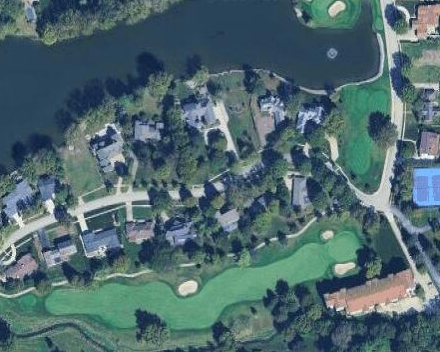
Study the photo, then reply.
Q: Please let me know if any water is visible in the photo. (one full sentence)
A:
Yes, some water is visible.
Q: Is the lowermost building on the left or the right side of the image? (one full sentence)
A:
It is on the right.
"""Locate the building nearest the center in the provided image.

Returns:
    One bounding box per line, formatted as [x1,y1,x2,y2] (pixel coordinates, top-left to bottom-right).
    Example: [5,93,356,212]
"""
[216,210,241,233]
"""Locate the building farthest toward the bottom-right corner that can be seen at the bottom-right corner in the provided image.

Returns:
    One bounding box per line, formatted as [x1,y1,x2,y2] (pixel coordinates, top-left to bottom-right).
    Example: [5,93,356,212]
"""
[325,267,419,313]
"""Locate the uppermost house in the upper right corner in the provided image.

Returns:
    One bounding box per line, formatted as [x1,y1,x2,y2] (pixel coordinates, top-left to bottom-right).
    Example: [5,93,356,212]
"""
[416,1,440,36]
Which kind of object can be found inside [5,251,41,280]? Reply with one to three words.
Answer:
house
